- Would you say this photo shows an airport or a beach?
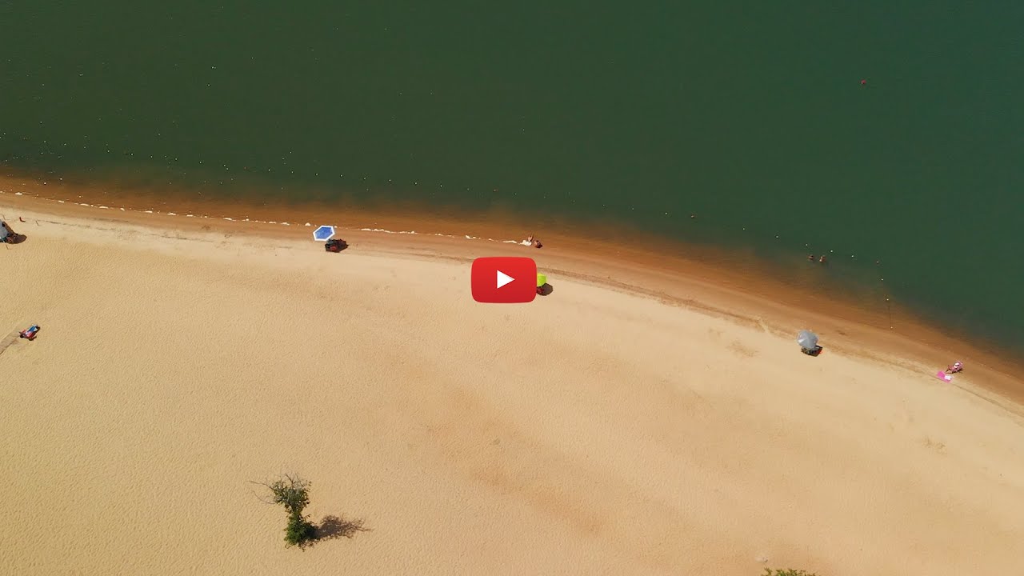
beach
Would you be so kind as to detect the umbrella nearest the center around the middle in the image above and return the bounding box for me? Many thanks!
[530,274,545,287]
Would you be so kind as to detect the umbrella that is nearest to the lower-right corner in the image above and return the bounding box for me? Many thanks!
[796,330,818,348]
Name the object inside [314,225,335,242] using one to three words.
umbrella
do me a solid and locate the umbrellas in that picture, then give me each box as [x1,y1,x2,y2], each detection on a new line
[530,274,545,287]
[314,225,335,242]
[0,219,11,245]
[796,330,818,348]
